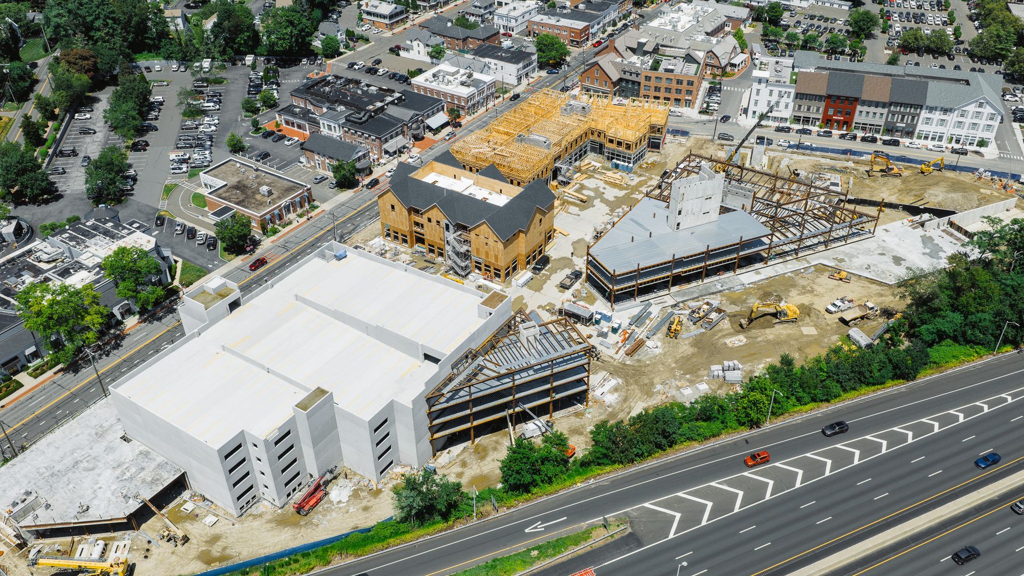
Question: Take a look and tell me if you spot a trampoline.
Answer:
No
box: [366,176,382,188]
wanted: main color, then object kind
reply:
black vehicle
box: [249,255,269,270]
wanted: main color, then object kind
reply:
red car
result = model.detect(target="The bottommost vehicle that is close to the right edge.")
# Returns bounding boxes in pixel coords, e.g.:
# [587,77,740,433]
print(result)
[950,545,981,566]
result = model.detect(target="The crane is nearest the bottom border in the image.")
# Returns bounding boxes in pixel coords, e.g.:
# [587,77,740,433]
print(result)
[25,536,149,576]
